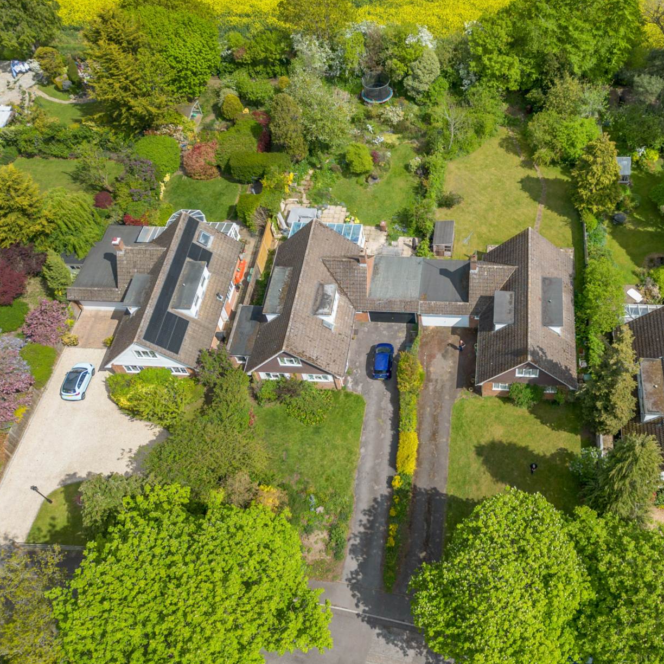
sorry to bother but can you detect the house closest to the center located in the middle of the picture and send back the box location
[227,218,423,393]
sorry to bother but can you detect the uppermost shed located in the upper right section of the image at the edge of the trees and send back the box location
[613,156,633,188]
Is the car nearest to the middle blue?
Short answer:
Yes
